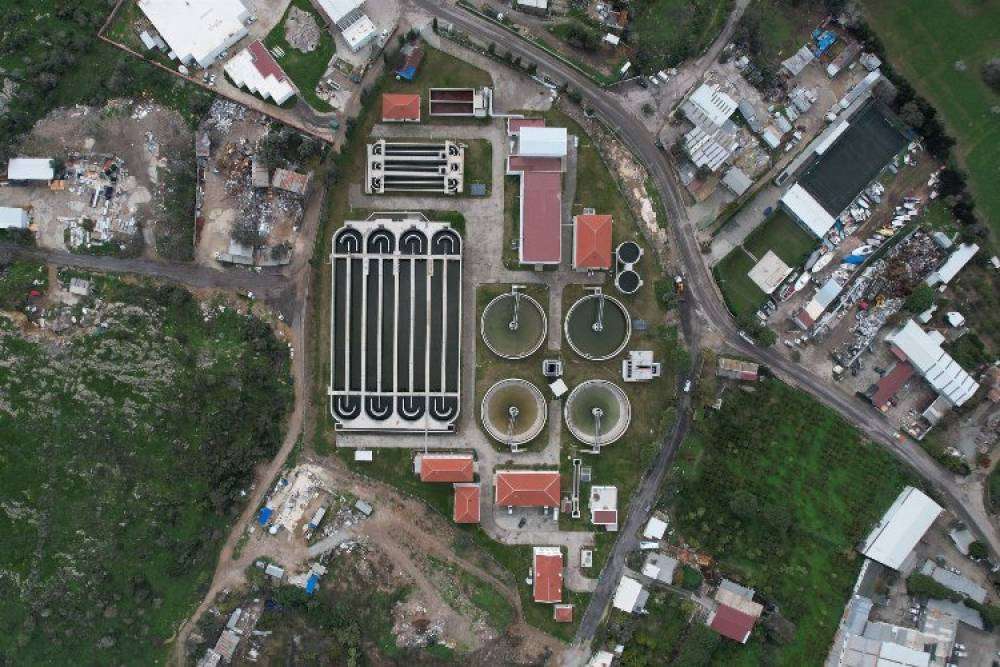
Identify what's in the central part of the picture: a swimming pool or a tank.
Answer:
tank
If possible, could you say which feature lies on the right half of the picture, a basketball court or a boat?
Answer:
boat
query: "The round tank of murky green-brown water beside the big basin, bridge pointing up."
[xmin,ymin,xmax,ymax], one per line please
[480,286,548,359]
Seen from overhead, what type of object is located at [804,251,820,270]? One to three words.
boat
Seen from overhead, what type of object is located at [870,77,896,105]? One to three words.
shed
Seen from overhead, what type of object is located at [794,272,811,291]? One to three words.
boat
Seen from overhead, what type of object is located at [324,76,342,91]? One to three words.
vehicle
